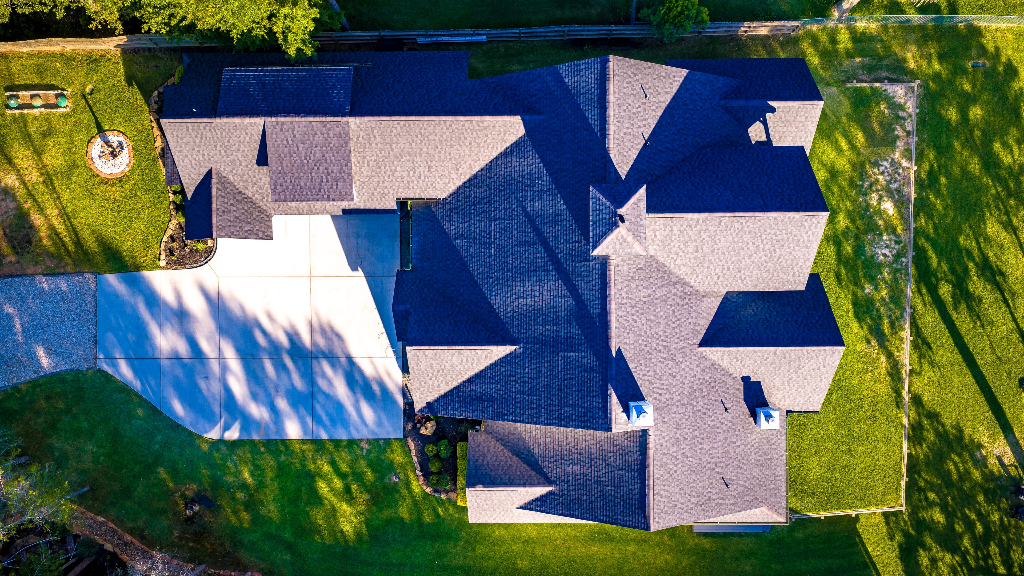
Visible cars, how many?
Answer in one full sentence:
There are no cars in this view.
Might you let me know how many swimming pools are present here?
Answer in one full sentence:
The picture shows no swimming pools.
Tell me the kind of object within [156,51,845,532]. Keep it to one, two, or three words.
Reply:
house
